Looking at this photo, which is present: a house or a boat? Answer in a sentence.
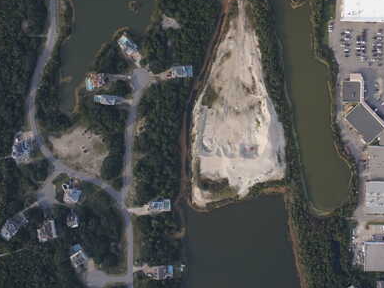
Of the two, only a house appears.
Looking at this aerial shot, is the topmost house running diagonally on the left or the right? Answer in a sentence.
The topmost house running diagonally is on the left side of the image.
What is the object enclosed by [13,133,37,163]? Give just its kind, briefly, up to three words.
house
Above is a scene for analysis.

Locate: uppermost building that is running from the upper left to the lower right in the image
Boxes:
[117,32,144,64]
